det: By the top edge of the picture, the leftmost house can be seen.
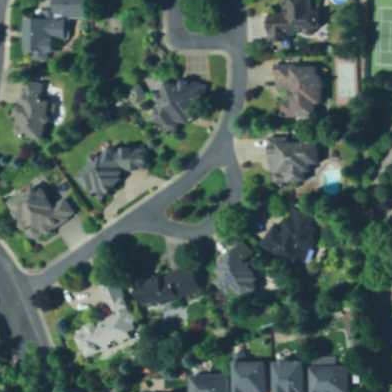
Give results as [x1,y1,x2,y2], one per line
[21,0,84,60]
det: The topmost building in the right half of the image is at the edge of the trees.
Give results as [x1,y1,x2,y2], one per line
[265,0,321,42]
